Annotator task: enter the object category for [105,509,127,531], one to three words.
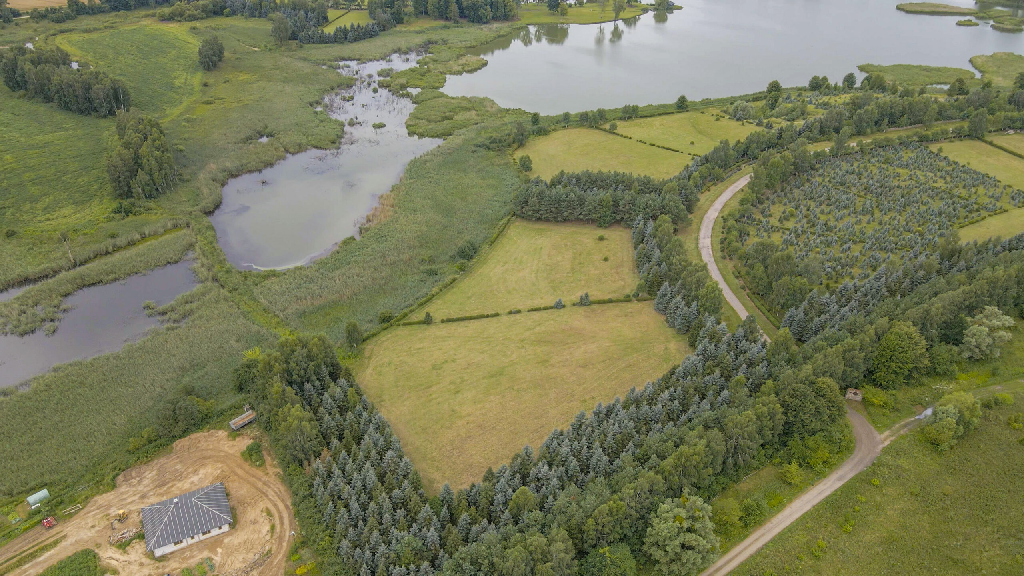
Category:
work vehicle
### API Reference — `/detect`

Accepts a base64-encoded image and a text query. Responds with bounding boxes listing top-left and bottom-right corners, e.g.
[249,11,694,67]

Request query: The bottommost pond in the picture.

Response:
[0,257,200,384]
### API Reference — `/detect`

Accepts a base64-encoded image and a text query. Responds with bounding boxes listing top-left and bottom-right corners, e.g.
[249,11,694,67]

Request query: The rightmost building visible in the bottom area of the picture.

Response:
[141,481,232,557]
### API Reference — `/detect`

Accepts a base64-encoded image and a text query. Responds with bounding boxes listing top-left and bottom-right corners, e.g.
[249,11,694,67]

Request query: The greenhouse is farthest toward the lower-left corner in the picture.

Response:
[23,489,52,512]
